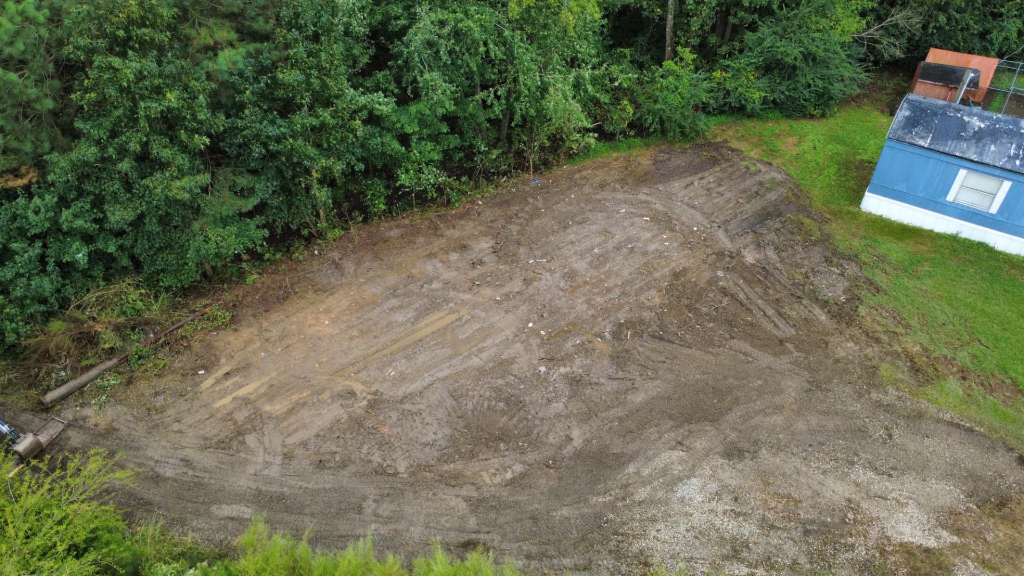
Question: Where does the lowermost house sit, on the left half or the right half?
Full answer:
The lowermost house is on the right side of the image.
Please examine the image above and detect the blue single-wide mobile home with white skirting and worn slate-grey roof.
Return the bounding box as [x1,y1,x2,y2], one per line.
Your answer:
[858,93,1024,258]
